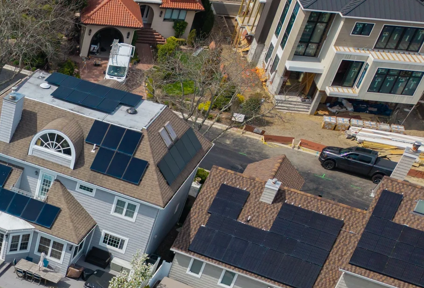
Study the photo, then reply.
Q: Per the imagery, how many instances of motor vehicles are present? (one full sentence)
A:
I count 2 motor vehicles.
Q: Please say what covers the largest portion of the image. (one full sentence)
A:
The largest share of the image is taken up by buildings.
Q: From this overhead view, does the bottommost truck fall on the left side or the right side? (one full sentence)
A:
The bottommost truck is on the right side of the image.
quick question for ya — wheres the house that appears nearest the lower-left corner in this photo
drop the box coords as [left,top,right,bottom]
[0,67,212,272]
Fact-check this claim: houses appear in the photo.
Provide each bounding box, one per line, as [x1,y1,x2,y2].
[234,0,424,114]
[166,131,424,288]
[78,0,204,53]
[0,67,212,272]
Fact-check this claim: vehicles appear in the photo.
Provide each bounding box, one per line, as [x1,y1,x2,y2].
[320,146,392,183]
[108,31,136,73]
